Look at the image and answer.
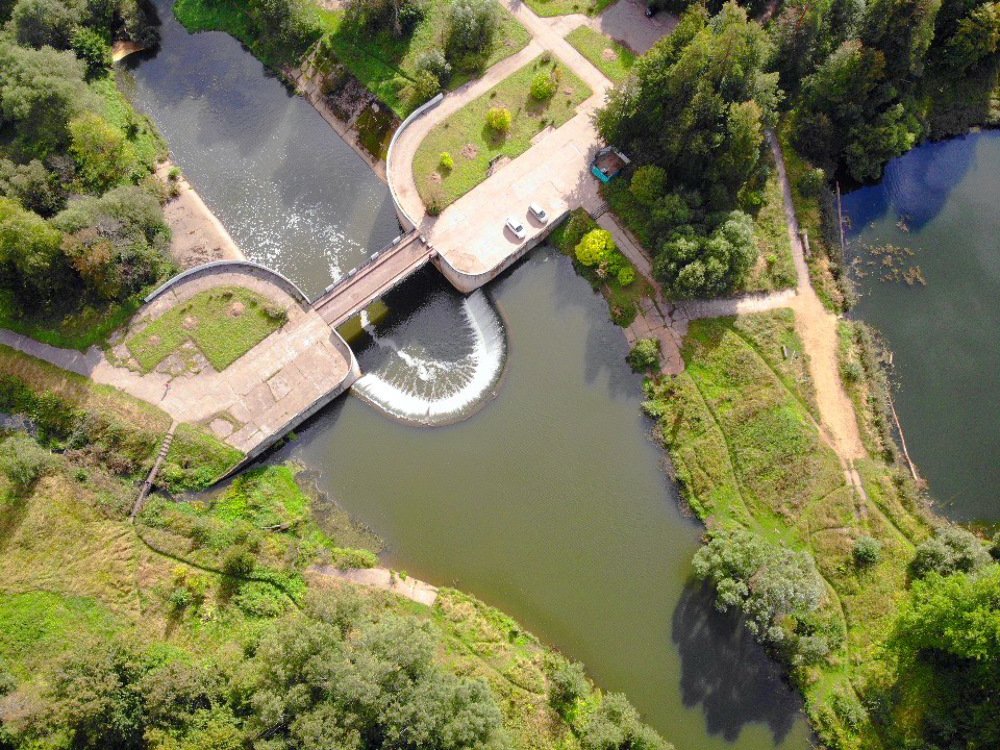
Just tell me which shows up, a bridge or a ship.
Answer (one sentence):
Looking from above, you can make out a bridge.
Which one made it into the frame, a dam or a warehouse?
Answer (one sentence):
Visible in the photo is a dam.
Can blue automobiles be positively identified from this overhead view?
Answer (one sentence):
No, the photo shows no blue automobile.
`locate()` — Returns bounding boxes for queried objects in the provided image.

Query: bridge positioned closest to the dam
[312,229,438,331]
